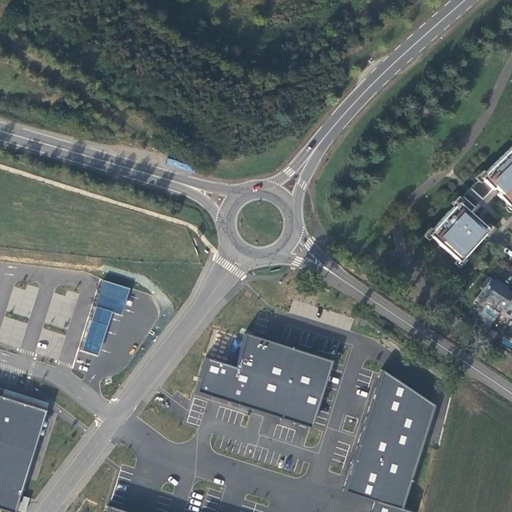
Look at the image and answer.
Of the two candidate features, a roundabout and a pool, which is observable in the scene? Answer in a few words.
roundabout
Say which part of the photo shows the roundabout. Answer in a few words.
center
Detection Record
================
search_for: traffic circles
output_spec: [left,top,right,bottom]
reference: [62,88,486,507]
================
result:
[203,169,316,280]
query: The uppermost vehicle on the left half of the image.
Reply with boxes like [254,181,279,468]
[166,157,194,173]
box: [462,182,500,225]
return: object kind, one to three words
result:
building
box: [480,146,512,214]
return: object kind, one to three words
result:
building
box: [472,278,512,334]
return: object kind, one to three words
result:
house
